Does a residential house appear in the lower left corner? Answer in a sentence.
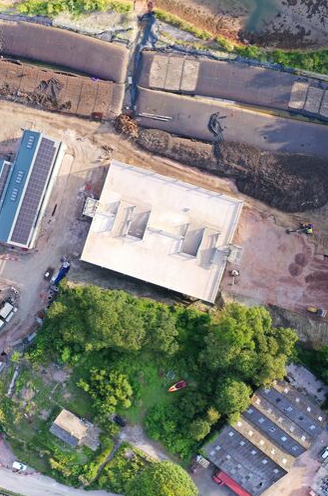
Yes, a residential house can be seen in the lower left corner.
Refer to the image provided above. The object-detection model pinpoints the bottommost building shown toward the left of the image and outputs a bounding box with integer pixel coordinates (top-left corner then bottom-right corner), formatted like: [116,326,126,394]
[47,406,101,450]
